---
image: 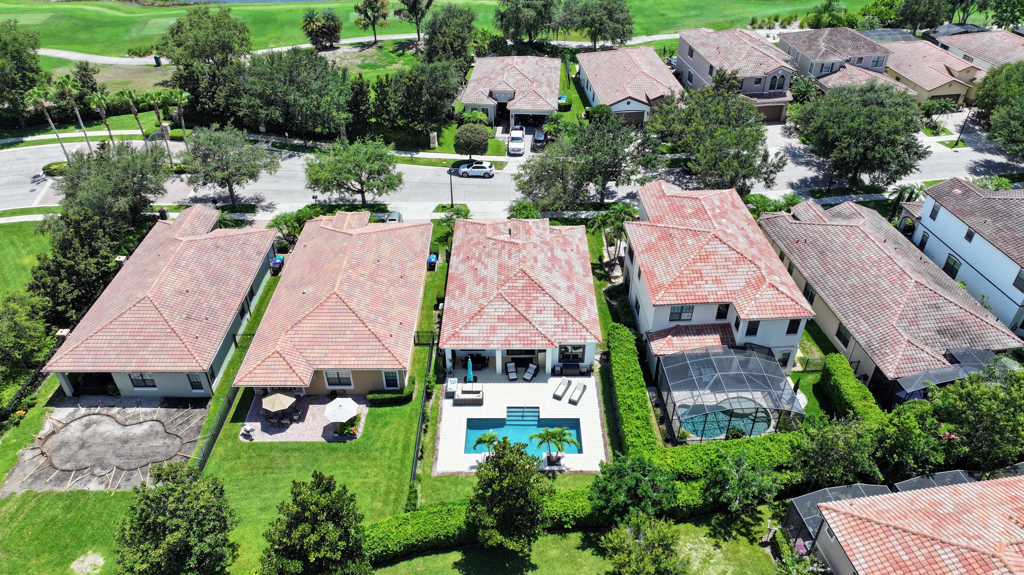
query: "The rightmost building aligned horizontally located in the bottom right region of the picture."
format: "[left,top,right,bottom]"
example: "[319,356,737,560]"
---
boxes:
[814,474,1024,575]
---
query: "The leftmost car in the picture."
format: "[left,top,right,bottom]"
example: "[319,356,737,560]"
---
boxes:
[384,207,402,222]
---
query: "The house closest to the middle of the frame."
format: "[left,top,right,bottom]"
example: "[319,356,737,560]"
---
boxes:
[438,217,603,371]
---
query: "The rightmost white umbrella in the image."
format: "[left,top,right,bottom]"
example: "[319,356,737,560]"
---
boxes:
[320,394,363,426]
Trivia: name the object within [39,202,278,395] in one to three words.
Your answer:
house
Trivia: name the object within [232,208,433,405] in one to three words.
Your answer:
house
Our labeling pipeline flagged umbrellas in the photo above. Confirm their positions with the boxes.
[257,388,300,413]
[464,359,476,385]
[320,394,363,426]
